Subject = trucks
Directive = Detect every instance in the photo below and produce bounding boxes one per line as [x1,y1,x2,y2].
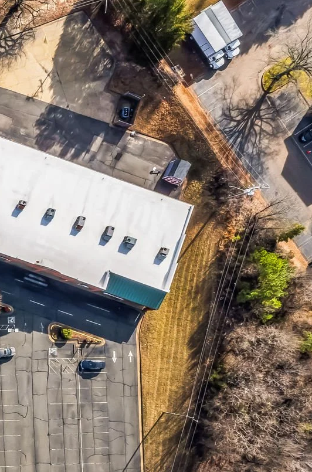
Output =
[199,0,243,61]
[184,12,226,73]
